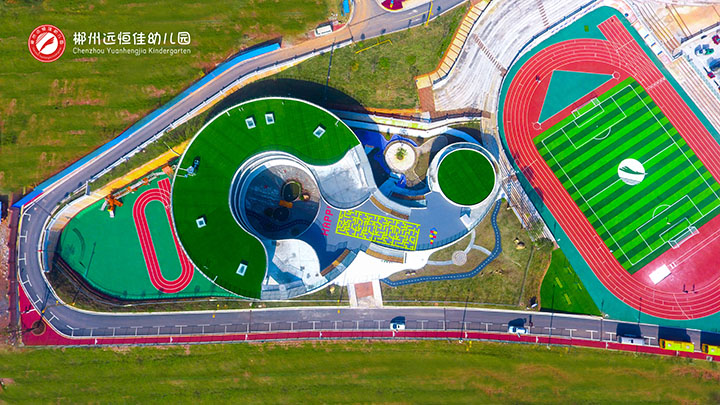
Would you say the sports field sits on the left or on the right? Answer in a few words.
right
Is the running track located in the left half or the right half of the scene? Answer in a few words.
right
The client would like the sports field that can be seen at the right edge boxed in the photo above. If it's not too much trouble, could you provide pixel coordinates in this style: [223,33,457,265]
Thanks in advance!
[498,6,720,330]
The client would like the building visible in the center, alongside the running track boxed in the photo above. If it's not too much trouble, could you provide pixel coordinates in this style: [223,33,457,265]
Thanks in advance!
[169,96,502,302]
